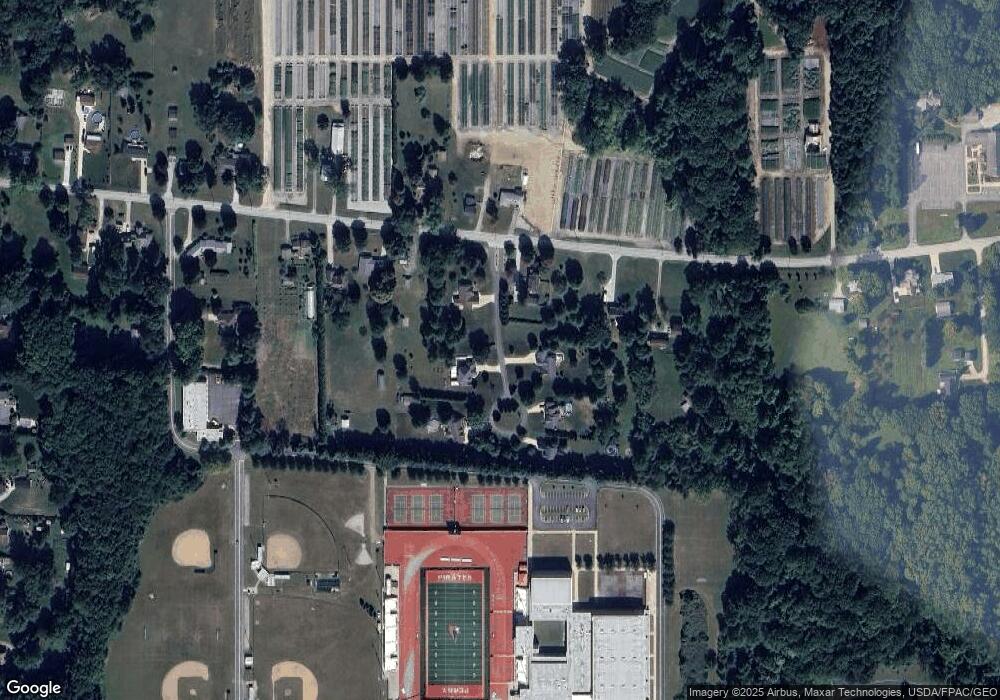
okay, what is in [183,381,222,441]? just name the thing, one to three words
building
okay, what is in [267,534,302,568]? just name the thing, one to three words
baseball field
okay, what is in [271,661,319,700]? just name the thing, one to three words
baseball field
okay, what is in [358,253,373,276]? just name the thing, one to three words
house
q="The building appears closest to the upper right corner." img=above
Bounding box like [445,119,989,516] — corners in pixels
[917,92,941,110]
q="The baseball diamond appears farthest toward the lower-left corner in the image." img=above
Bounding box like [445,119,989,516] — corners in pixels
[160,661,212,700]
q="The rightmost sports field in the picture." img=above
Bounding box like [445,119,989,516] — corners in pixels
[421,567,490,700]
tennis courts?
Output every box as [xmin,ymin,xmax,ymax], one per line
[472,495,485,523]
[394,495,408,523]
[507,495,521,523]
[490,495,505,523]
[411,495,426,523]
[430,495,444,523]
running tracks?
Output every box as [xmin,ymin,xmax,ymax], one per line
[386,531,527,700]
